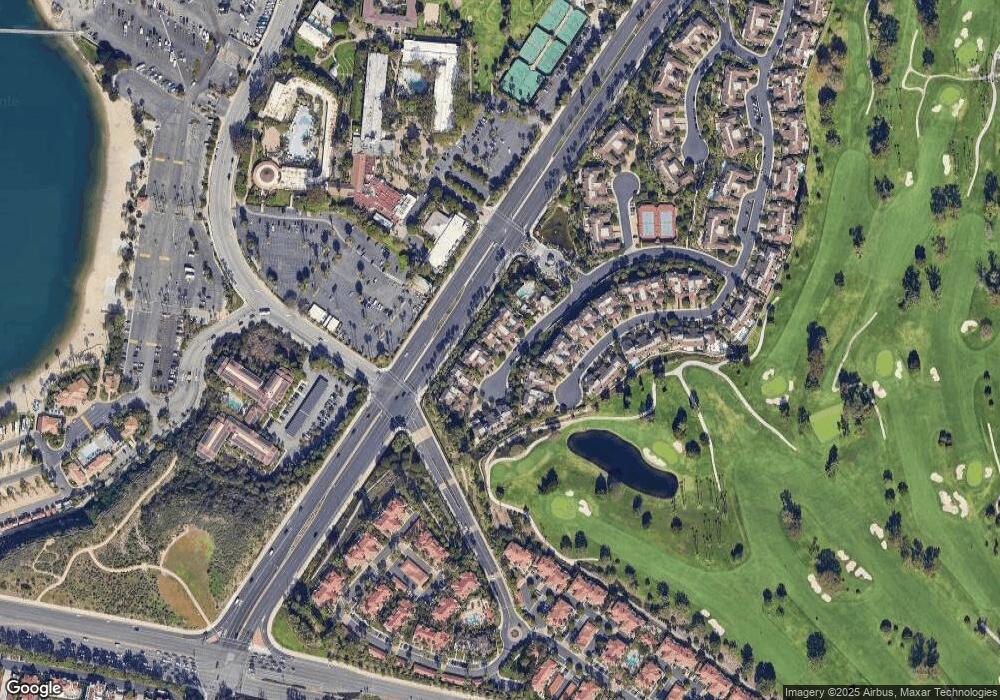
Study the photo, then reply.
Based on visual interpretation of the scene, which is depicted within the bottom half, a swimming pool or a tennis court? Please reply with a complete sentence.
Visible within the bottom half is a swimming pool.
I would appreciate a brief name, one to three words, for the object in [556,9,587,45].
tennis court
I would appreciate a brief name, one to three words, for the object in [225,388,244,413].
swimming pool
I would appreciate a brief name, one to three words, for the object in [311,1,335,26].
building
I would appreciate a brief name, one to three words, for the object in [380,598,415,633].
house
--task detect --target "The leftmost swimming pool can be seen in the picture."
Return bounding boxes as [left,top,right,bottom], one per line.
[77,436,104,466]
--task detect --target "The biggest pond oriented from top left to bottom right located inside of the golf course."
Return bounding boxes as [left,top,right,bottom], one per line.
[567,430,679,498]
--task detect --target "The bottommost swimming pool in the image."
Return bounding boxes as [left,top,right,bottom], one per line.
[623,648,641,674]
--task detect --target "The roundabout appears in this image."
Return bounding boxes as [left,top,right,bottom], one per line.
[496,616,531,651]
